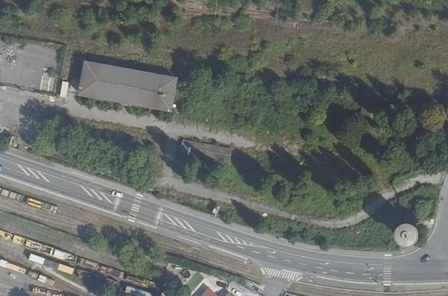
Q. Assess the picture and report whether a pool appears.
No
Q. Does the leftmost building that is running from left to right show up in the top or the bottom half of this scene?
top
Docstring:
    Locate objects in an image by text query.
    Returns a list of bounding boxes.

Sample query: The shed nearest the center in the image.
[182,139,232,161]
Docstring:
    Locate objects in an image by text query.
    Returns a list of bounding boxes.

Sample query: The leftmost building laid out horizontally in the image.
[77,60,177,111]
